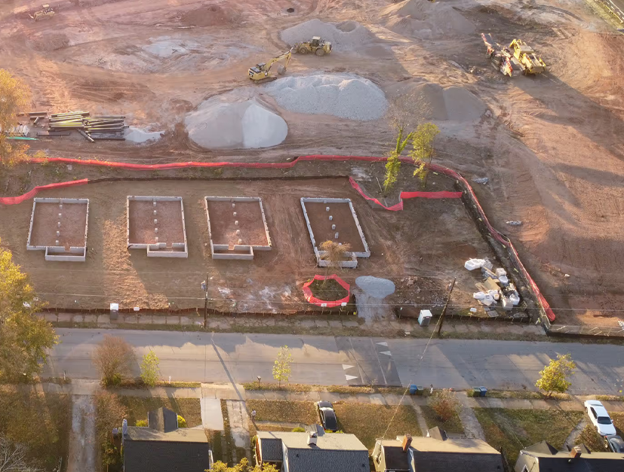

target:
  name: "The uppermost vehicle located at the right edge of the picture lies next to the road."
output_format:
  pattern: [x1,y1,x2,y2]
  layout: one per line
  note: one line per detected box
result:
[580,397,624,432]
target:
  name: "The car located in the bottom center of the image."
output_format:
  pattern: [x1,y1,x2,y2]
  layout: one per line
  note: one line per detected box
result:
[313,397,345,431]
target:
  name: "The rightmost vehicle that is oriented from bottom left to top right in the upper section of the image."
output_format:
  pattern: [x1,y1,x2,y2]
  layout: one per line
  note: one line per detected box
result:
[247,45,292,84]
